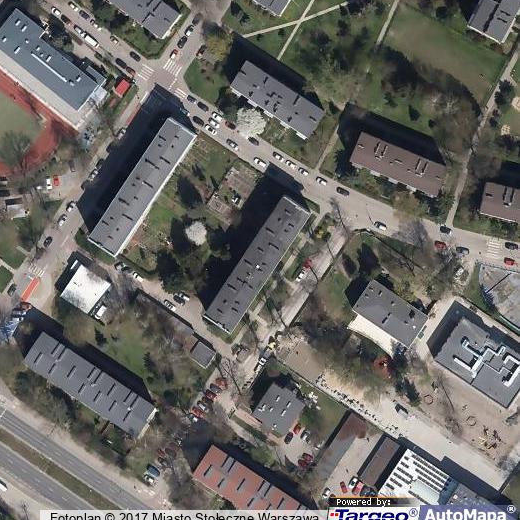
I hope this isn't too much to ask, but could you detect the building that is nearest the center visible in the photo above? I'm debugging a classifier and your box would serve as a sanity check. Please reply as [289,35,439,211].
[204,197,310,334]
